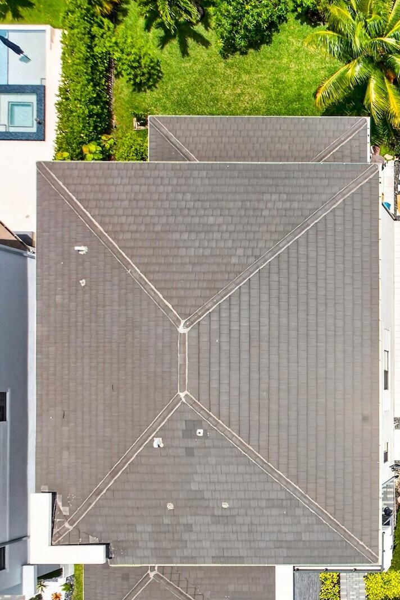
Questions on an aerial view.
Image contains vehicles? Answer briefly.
No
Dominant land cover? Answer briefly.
buildings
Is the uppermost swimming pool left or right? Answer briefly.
left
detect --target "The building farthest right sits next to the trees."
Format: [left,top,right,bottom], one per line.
[29,113,398,600]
